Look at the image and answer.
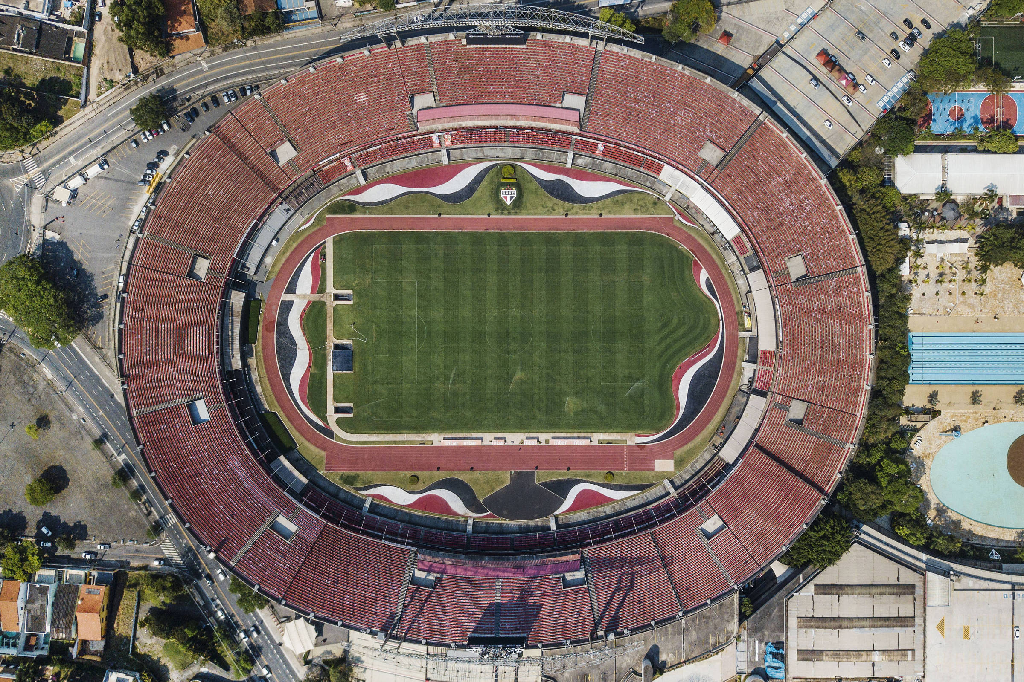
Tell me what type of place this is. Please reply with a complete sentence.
This looks like a sports ground.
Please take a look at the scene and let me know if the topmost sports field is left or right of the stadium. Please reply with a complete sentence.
Compared with the stadium, the topmost sports field is located further to the right.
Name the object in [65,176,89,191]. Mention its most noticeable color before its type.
white vehicle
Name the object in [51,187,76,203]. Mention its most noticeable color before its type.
white vehicle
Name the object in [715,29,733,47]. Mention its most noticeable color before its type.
red gazebo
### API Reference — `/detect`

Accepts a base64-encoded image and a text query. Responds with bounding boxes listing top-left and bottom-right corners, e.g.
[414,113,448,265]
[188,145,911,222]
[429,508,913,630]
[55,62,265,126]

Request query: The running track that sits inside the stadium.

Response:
[262,214,739,471]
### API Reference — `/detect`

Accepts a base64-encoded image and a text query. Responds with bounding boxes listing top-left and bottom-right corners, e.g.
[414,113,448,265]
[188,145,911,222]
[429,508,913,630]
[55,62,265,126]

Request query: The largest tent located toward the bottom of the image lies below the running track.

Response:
[282,618,320,652]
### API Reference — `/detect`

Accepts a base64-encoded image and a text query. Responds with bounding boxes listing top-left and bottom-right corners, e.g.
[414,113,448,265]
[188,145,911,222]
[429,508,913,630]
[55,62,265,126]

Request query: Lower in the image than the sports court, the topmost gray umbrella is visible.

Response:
[942,201,959,218]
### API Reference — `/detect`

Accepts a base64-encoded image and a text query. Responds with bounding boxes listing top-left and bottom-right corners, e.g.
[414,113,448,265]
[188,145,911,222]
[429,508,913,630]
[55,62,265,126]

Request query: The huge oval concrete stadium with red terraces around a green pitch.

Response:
[119,26,881,655]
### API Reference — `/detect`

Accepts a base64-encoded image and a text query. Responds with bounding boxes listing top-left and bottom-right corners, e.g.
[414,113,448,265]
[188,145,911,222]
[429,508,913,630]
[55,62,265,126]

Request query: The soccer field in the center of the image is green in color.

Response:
[303,231,719,444]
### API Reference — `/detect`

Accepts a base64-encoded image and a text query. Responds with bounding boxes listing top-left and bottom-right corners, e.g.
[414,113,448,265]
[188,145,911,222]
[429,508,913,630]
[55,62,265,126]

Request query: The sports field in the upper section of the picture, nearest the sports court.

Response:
[974,22,1024,79]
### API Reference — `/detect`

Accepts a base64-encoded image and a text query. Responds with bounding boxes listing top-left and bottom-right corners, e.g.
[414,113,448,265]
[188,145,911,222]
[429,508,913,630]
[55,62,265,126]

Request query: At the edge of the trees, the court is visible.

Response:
[914,90,1024,136]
